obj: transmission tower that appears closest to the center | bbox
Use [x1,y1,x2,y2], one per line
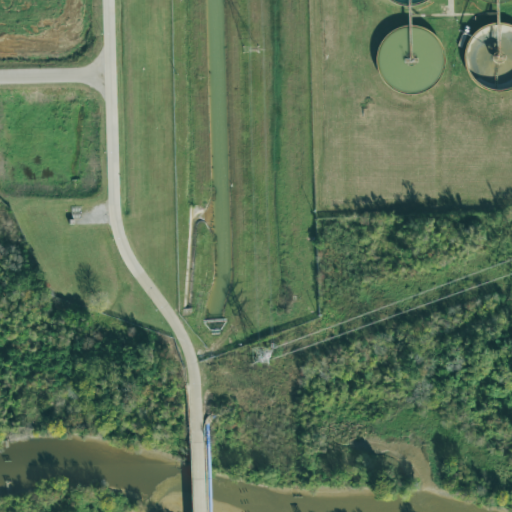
[252,347,272,362]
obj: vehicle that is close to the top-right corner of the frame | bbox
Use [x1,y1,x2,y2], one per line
[458,30,484,47]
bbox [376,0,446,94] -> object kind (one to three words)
storage tank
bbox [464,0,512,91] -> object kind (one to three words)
storage tank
